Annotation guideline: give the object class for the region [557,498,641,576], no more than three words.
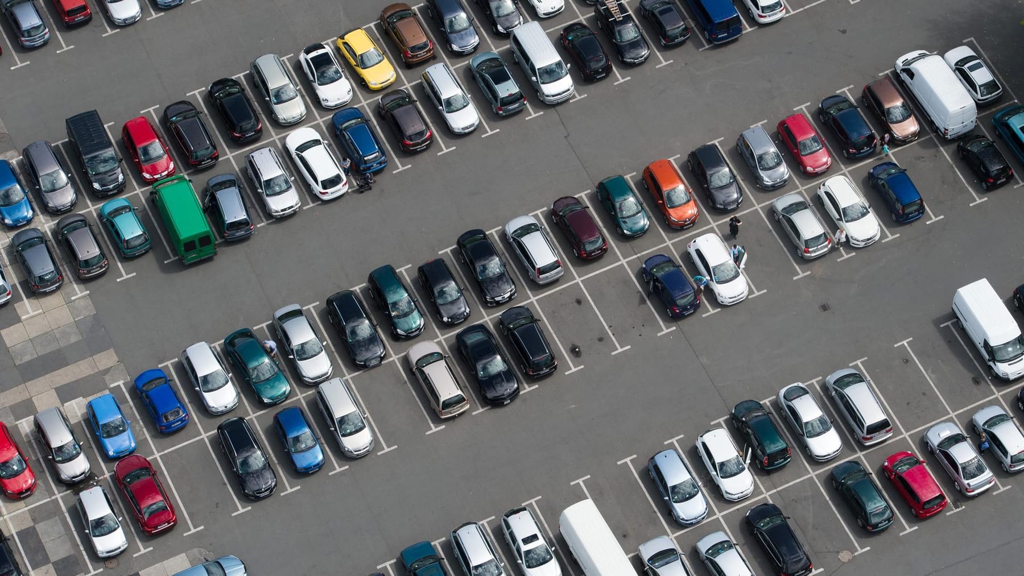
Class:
van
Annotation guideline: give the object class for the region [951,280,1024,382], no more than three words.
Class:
van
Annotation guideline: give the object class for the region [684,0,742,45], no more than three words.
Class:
vehicle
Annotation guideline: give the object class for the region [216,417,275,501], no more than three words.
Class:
car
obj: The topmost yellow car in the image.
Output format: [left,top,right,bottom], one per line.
[338,29,395,93]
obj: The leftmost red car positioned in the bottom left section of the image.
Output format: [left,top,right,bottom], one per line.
[0,427,33,501]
